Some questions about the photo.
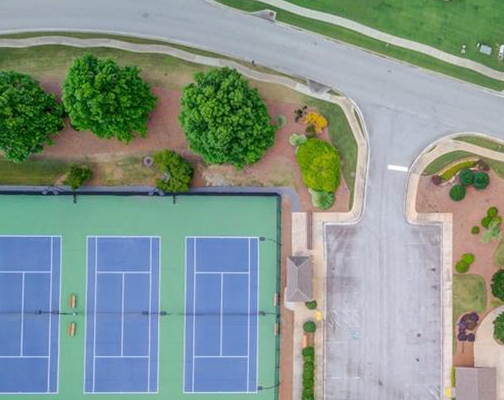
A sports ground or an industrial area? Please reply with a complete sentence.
This image shows a sports ground.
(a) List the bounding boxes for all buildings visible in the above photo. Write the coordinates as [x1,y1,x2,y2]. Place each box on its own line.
[286,256,314,301]
[455,367,496,400]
